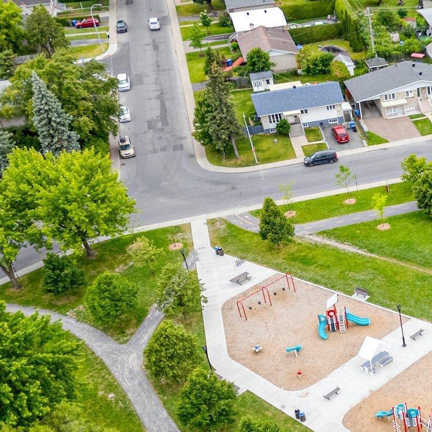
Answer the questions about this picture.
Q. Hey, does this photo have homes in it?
Yes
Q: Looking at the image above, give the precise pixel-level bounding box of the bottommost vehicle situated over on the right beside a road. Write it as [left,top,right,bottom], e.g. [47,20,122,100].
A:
[303,146,338,166]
